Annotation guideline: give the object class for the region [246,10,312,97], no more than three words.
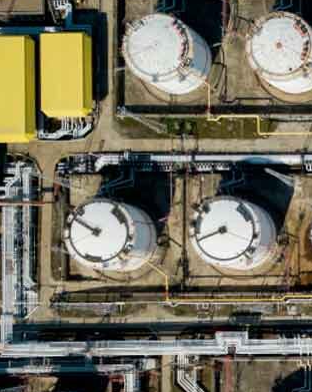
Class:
storage tank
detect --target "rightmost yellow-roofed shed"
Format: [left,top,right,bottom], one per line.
[40,29,95,116]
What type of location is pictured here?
industrial area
